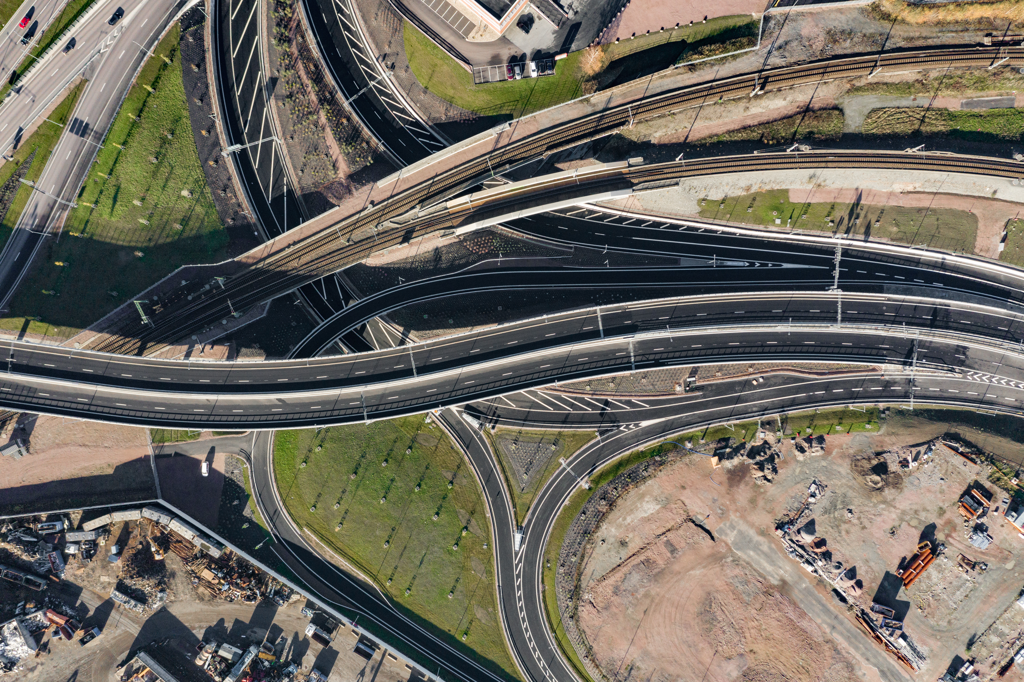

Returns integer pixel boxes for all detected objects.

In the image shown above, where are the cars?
[18,14,29,29]
[516,20,530,34]
[507,64,514,79]
[107,10,121,24]
[20,32,31,45]
[546,59,553,73]
[538,59,545,74]
[60,42,73,55]
[530,61,537,76]
[514,65,521,79]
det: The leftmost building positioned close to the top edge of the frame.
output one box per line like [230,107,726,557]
[453,0,530,35]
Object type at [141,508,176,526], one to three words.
rail car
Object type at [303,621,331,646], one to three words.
truck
